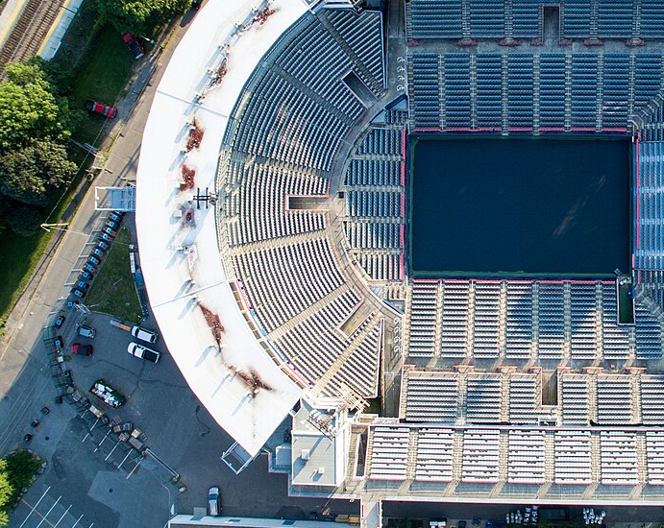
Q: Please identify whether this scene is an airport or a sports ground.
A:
sports ground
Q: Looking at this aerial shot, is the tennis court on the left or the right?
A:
right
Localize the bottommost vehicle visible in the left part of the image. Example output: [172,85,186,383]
[205,485,221,517]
